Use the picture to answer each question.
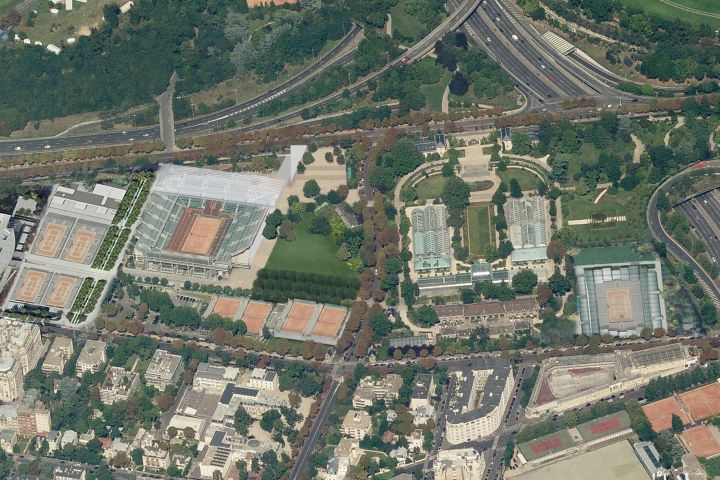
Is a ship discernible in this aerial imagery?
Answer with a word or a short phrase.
No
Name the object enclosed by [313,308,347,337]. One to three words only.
tennis court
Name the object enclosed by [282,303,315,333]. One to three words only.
tennis court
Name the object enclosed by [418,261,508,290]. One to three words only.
building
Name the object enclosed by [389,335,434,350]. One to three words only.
greenhouse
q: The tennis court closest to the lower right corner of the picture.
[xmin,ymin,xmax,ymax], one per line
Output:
[685,424,720,457]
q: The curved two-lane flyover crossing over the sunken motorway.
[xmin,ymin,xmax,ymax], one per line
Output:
[323,0,480,103]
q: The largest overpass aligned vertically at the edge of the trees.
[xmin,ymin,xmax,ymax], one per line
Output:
[162,65,179,157]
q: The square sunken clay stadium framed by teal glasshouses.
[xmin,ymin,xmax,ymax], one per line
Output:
[574,261,670,341]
